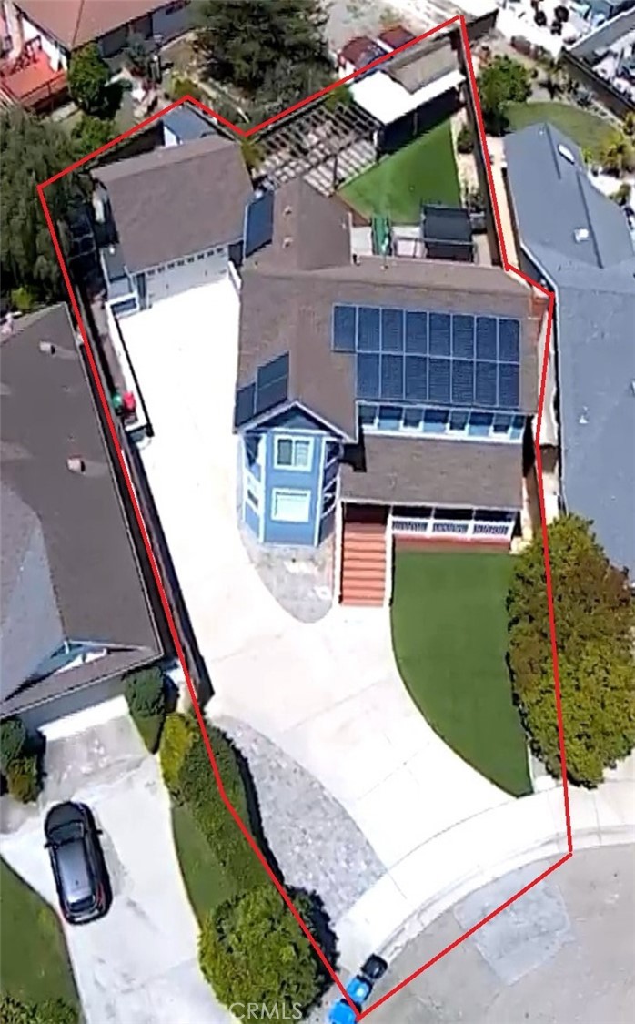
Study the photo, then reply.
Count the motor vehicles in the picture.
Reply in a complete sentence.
In total, 1 motor vehicle can be seen.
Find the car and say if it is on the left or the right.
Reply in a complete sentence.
You can find the car on the left side of the picture.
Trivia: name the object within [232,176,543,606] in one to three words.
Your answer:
house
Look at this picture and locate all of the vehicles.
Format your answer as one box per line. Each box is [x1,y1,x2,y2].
[41,808,109,923]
